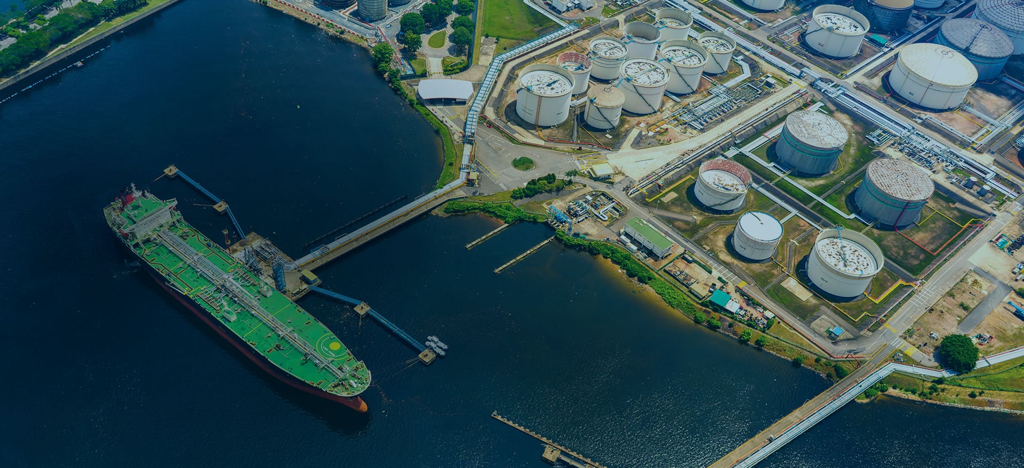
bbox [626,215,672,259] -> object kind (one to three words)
building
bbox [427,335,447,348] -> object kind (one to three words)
boat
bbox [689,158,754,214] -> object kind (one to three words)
storage tank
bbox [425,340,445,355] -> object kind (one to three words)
boat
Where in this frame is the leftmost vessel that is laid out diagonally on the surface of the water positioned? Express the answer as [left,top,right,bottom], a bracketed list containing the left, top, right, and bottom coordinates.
[97,184,369,411]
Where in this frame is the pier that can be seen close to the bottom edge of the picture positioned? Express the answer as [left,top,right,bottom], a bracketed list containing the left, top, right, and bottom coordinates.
[492,409,611,468]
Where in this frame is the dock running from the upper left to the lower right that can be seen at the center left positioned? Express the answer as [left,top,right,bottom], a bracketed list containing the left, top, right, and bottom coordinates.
[227,232,323,302]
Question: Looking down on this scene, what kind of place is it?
industrial area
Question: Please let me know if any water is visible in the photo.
Yes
